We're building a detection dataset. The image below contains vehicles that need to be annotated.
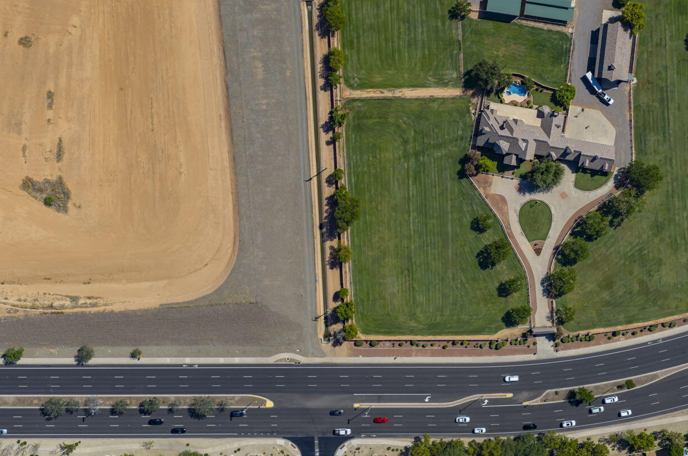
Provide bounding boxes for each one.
[0,429,7,435]
[330,410,344,415]
[335,429,350,435]
[473,428,485,433]
[375,416,387,422]
[172,427,186,433]
[149,418,163,424]
[618,410,631,418]
[456,416,468,422]
[524,423,538,429]
[590,405,603,413]
[231,411,246,416]
[597,91,612,104]
[505,375,518,381]
[562,420,576,427]
[603,396,617,403]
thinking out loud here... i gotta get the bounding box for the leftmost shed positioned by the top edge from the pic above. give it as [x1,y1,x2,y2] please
[487,0,522,16]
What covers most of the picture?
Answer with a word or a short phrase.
paved ground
